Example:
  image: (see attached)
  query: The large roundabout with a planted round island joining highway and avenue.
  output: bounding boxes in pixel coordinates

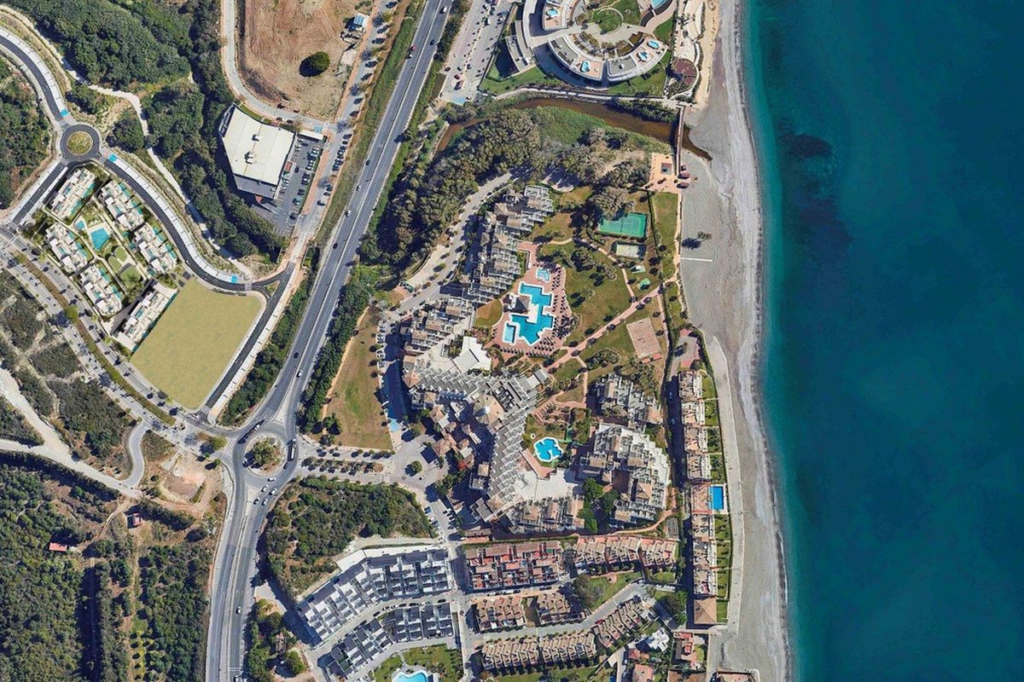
[230,419,299,489]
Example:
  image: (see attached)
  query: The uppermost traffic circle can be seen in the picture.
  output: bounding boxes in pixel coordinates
[57,119,103,165]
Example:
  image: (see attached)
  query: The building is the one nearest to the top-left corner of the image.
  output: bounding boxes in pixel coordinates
[50,167,101,227]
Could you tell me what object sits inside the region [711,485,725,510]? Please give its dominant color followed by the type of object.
blue swimming pool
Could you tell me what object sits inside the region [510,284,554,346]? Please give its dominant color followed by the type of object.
blue swimming pool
